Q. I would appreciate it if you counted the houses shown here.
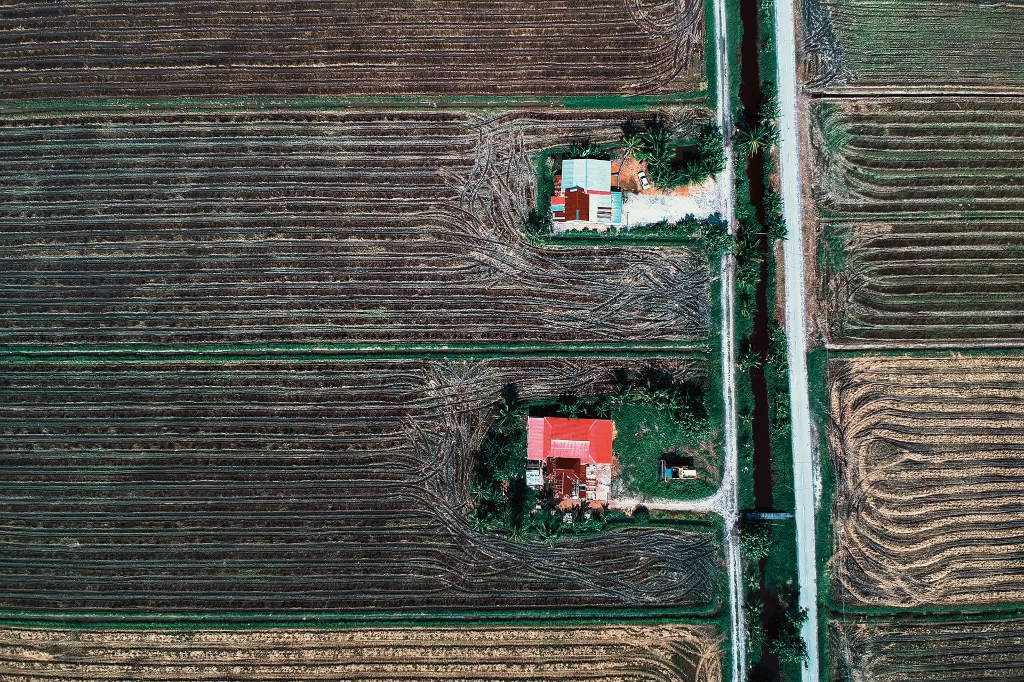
2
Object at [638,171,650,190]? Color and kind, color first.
white vehicle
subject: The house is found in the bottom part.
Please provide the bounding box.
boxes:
[526,417,612,500]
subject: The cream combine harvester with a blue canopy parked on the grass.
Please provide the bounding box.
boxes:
[657,459,696,482]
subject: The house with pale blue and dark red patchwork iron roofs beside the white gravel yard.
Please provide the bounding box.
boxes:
[549,159,622,228]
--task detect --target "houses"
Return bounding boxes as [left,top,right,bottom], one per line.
[526,417,612,500]
[549,159,622,228]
